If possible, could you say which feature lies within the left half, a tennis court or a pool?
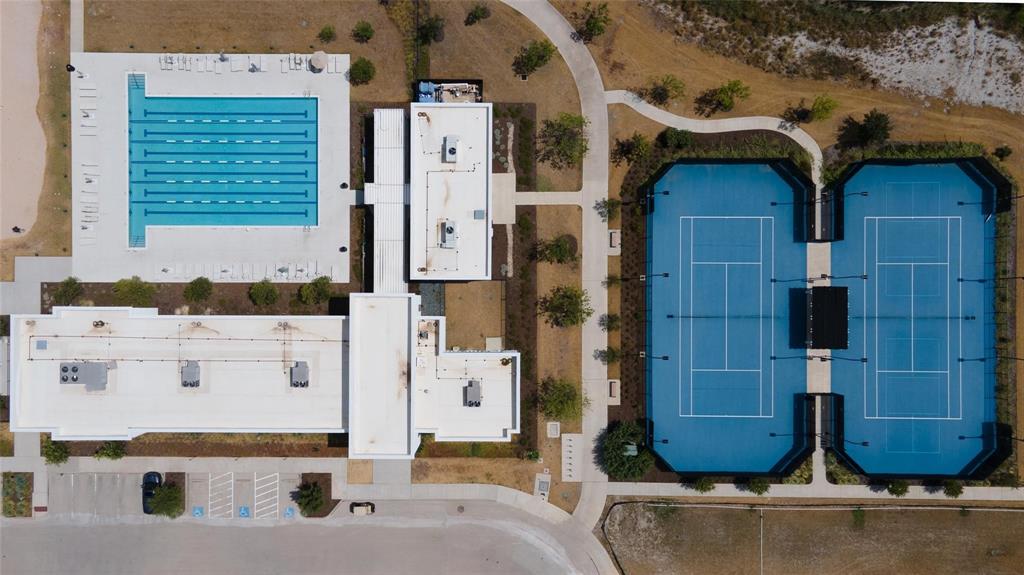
pool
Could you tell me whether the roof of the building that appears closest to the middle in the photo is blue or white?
white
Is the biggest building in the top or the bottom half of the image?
bottom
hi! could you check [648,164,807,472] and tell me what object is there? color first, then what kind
blue tennis court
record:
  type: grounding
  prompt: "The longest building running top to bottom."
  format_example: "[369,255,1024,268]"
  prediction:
[410,103,495,281]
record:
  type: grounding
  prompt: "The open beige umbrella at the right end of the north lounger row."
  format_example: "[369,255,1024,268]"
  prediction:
[309,53,326,70]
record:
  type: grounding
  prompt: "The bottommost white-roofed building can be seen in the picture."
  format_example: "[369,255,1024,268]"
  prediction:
[10,292,520,459]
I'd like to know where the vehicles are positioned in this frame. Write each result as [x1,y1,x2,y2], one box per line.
[350,500,375,515]
[141,471,163,514]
